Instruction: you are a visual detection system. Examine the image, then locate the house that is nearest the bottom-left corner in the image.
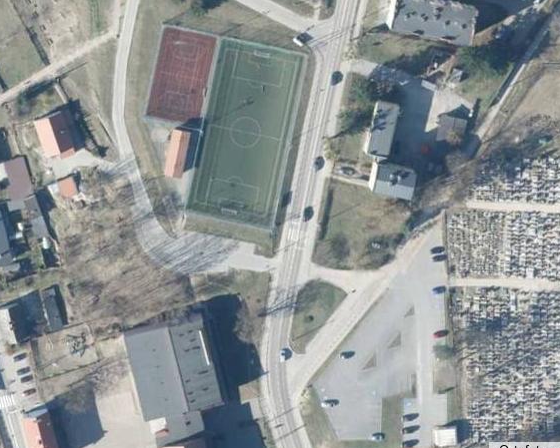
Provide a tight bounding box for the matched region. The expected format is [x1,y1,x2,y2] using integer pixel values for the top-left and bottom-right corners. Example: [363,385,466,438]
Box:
[22,411,58,448]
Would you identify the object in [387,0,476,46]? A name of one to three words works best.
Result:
building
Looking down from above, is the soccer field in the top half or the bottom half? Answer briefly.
top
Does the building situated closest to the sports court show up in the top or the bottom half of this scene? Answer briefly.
top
